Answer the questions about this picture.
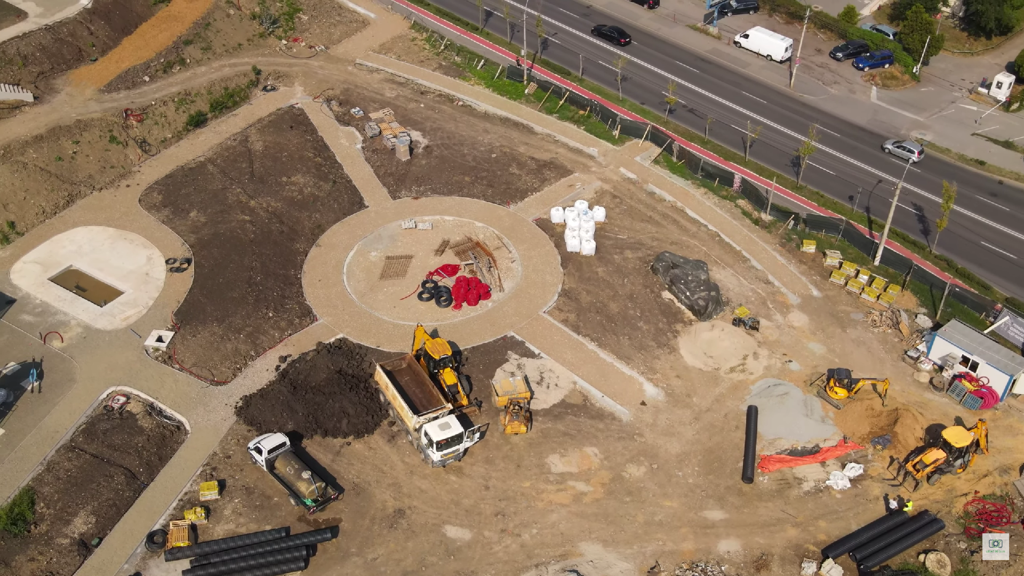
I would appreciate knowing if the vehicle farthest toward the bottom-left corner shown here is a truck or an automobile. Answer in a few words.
truck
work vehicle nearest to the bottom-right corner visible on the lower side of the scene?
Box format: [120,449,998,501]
[892,417,991,493]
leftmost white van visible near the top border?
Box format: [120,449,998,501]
[730,25,793,63]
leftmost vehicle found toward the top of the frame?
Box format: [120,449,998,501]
[585,25,626,47]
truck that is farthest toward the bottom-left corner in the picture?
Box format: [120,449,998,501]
[246,432,335,518]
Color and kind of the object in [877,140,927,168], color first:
gray car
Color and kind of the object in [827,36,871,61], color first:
black car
